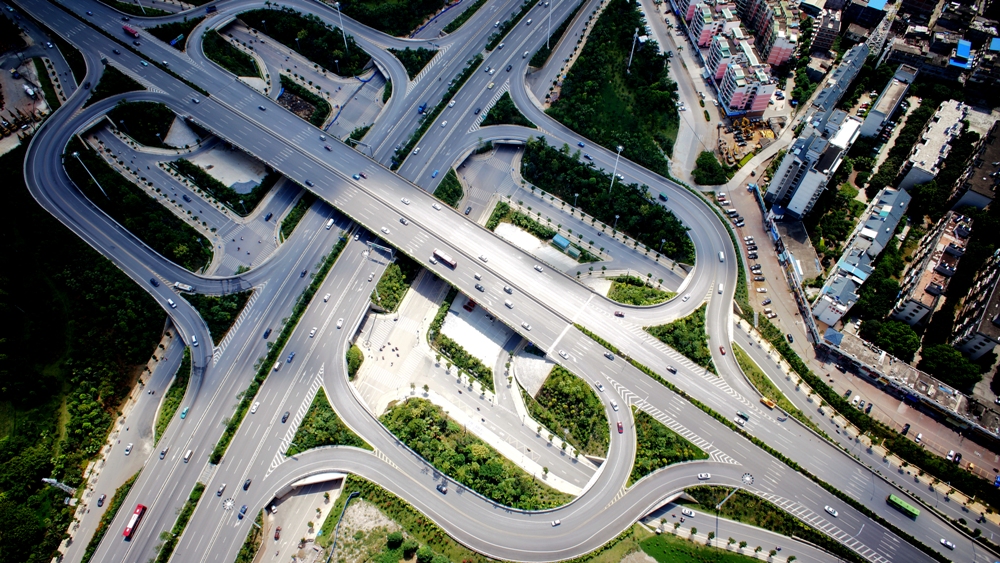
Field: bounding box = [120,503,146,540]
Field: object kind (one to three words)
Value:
bus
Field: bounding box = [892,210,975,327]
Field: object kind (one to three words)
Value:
building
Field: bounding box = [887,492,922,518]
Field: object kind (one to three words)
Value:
bus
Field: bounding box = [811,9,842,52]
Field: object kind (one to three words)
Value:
building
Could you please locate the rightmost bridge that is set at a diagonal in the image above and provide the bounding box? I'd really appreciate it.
[208,76,594,323]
